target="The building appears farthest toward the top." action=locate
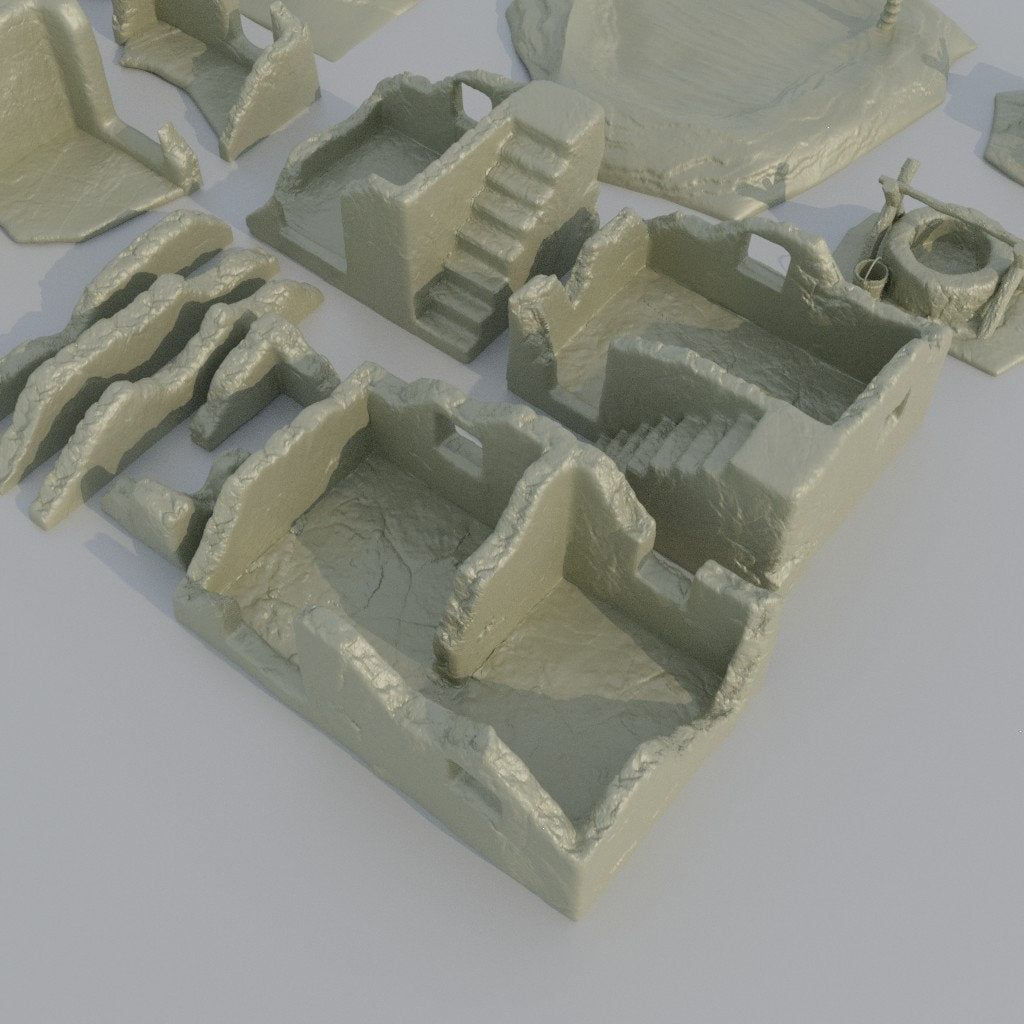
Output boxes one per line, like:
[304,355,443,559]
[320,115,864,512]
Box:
[247,74,609,359]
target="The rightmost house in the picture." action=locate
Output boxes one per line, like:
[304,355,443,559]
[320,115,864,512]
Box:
[509,210,956,598]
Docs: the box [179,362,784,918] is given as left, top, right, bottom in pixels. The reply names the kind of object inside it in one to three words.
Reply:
house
